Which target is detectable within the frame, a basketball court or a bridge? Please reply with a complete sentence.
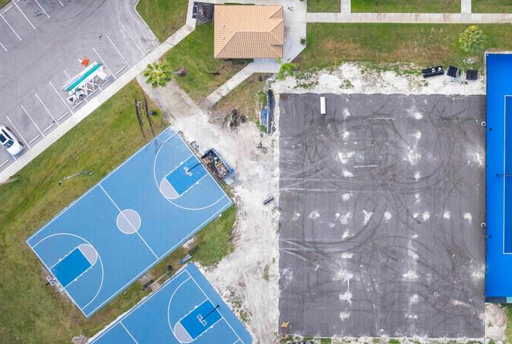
The image shows a basketball court.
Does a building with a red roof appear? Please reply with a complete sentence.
No, no building with a red roof is visible in the scene.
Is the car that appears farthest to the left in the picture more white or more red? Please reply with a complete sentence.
In this view, the car that appears farthest to the left is white.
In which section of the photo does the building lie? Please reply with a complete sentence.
The building is in the top part of the image.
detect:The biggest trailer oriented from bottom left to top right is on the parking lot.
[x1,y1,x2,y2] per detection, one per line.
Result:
[60,61,104,104]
